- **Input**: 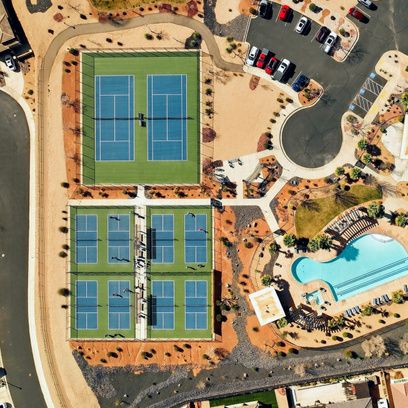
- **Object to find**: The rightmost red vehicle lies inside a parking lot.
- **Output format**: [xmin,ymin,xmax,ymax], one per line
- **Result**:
[349,9,367,22]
